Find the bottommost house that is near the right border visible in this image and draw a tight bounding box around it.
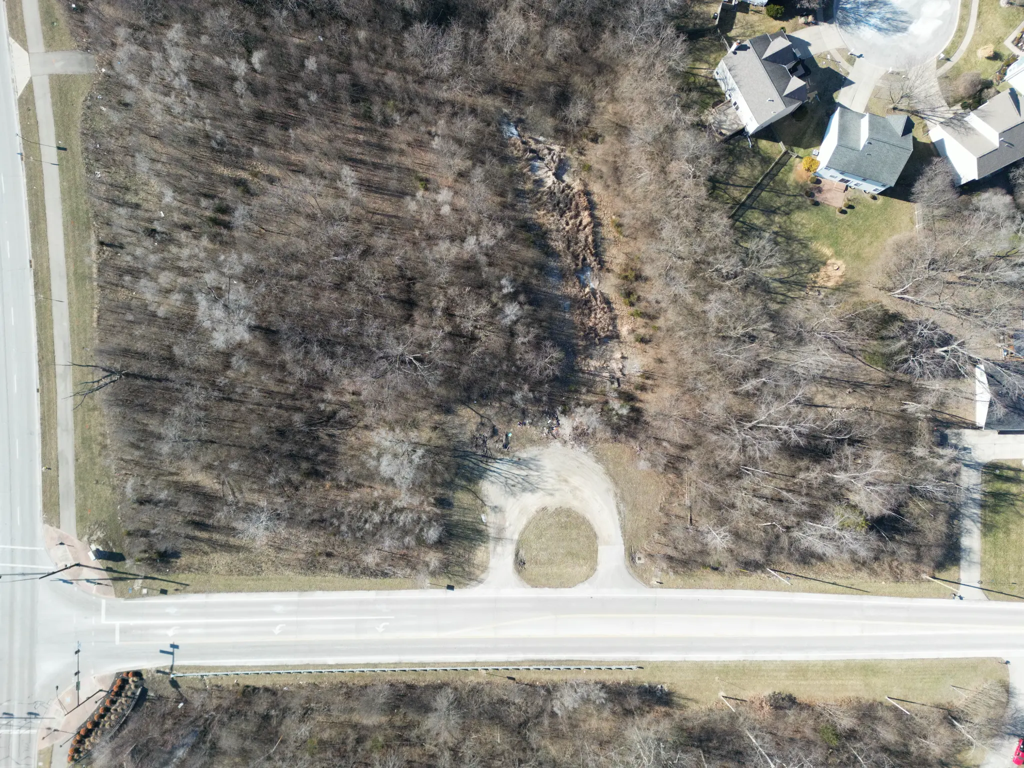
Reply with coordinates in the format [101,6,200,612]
[975,363,1024,430]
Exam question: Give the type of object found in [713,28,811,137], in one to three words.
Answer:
house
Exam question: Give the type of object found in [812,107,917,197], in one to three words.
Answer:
house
